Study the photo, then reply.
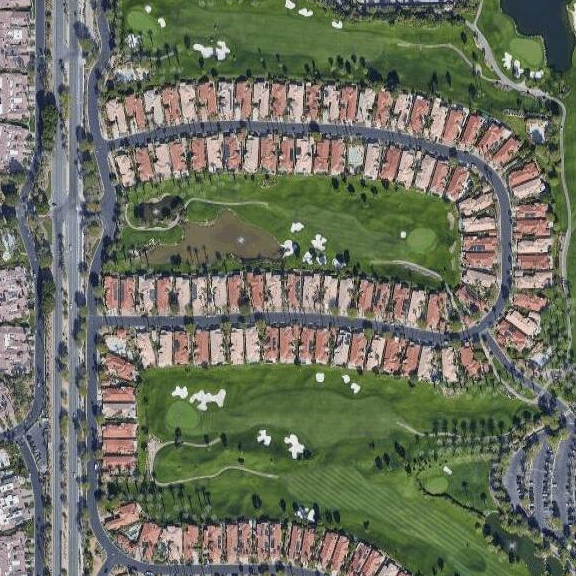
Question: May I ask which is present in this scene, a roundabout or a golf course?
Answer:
golf course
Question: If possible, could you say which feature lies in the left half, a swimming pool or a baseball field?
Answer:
swimming pool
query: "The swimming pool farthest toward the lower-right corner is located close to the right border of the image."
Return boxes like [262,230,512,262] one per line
[529,349,549,367]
